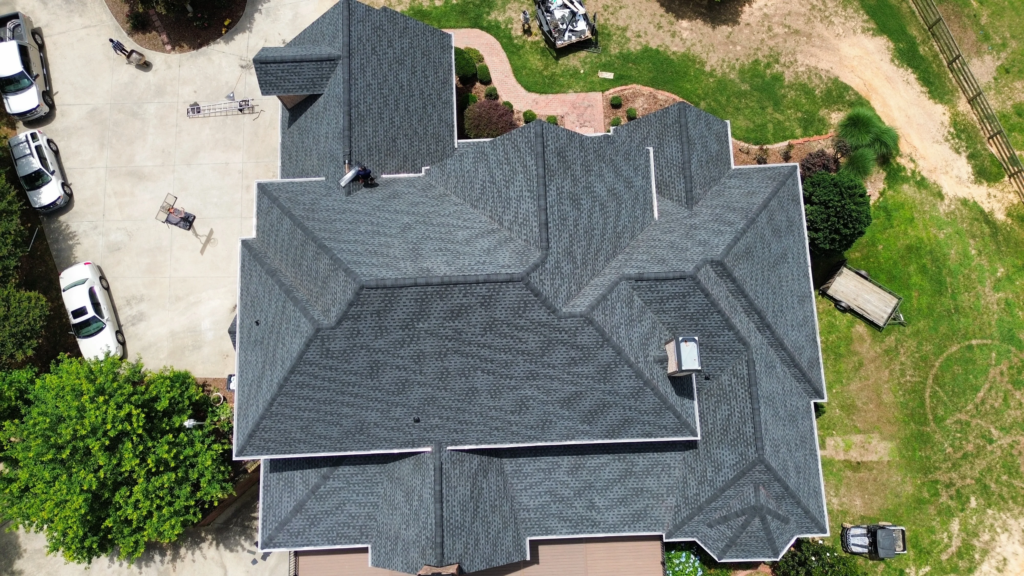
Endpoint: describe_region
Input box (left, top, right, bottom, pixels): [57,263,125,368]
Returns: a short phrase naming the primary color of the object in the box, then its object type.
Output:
white car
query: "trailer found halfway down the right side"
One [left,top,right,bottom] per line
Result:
[821,258,911,328]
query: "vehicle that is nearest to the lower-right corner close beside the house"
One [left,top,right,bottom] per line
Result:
[838,519,911,560]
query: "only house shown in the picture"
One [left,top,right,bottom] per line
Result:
[228,0,830,576]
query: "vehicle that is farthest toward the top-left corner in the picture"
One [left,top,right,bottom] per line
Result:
[0,12,54,125]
